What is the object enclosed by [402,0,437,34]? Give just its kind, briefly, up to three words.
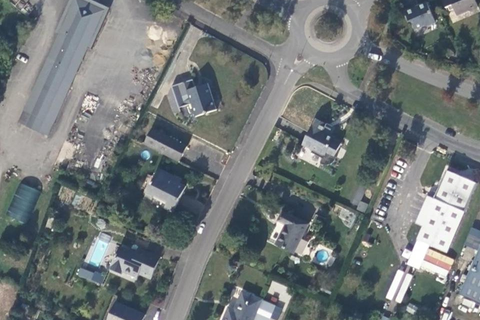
house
